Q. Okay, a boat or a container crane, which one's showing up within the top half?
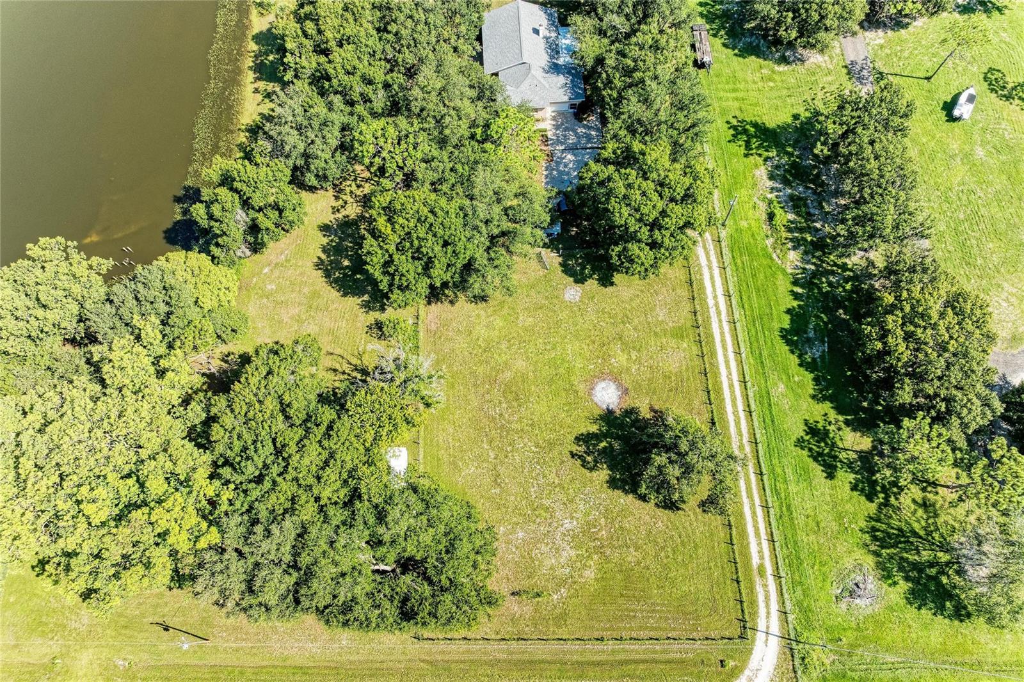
boat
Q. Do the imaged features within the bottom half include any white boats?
No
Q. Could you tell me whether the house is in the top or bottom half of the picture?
top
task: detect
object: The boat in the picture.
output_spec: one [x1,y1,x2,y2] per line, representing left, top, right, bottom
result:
[951,86,979,124]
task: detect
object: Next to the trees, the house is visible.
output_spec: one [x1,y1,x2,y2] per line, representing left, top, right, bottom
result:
[485,0,585,118]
